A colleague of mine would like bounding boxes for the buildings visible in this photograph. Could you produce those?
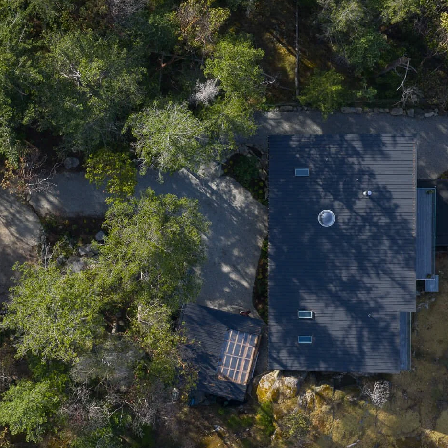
[266,132,440,374]
[166,304,266,404]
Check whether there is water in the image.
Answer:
No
